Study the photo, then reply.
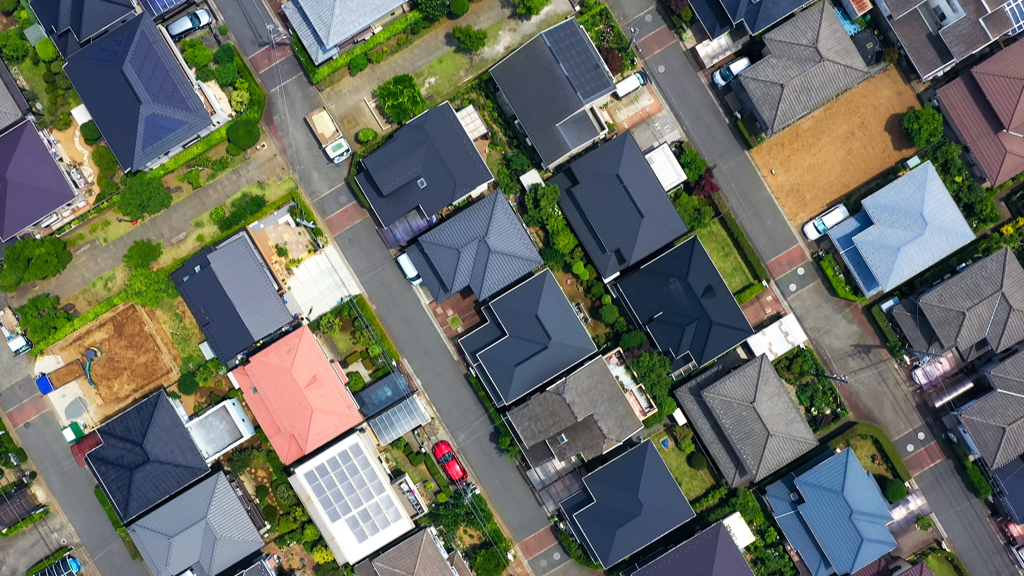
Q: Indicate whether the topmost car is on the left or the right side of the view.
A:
left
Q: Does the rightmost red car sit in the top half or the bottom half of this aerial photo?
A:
bottom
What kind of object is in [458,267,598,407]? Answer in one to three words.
house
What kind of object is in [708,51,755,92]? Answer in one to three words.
car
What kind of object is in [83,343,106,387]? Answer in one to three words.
work vehicle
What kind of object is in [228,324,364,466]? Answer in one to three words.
house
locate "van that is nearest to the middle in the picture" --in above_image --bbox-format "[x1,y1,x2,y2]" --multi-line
[392,249,424,288]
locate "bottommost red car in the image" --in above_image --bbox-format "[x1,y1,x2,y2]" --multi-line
[430,436,470,487]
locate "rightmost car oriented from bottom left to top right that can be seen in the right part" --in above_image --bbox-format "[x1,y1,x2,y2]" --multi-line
[799,200,854,244]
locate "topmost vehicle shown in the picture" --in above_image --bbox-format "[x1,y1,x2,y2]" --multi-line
[165,6,217,39]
